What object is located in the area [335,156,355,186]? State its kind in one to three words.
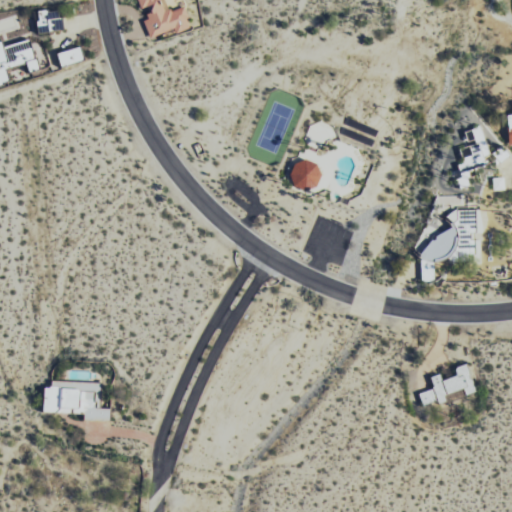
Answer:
swimming pool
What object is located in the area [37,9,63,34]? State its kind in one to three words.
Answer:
house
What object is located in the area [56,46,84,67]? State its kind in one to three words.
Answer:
house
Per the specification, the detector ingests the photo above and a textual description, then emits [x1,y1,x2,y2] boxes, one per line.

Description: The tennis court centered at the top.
[248,90,304,166]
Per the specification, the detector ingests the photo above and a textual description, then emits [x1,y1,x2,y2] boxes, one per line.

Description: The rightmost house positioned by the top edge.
[139,0,192,38]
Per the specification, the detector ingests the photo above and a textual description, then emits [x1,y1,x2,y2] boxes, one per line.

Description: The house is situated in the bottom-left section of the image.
[42,382,110,422]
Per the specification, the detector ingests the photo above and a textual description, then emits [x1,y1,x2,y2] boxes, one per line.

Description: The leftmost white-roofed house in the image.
[0,39,40,86]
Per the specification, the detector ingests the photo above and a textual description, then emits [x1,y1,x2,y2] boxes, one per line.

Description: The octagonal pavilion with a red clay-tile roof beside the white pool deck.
[291,160,322,190]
